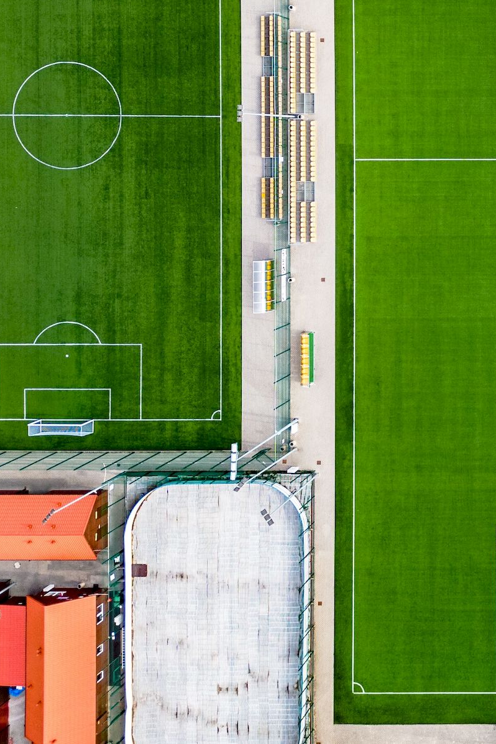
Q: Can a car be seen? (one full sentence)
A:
No, I can see no car in this picture.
